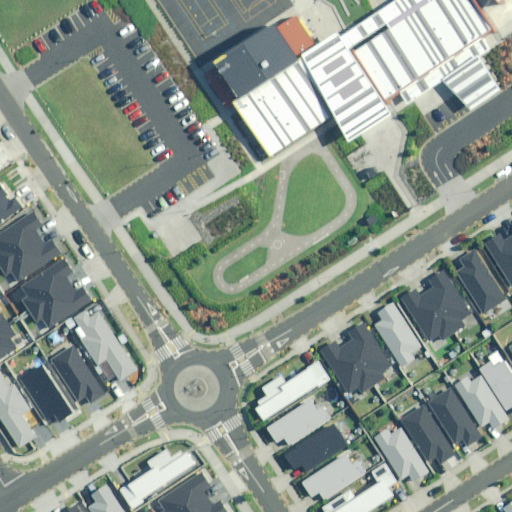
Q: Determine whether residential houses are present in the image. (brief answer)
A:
Yes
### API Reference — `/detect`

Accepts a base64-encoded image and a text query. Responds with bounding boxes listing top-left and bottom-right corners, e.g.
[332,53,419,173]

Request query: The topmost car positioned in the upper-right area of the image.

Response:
[432,106,444,124]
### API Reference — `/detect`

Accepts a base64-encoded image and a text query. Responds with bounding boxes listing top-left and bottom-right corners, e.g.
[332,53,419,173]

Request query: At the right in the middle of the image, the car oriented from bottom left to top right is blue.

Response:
[480,212,498,226]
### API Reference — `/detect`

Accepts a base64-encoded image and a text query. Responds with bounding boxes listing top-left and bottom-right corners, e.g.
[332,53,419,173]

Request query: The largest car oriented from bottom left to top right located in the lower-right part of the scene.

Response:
[427,485,444,498]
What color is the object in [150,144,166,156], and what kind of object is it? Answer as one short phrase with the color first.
white vehicle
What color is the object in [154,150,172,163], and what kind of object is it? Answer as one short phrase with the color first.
red vehicle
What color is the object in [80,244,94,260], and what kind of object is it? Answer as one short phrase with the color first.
white car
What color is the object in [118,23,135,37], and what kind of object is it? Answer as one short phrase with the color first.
white vehicle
